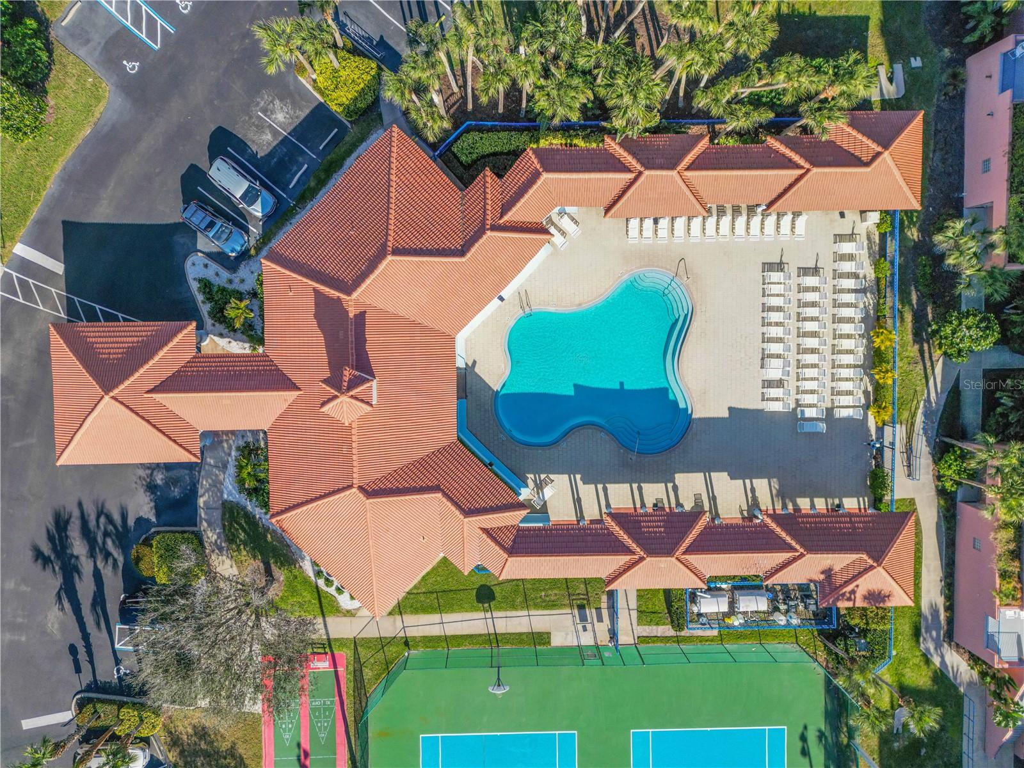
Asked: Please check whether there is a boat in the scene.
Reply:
No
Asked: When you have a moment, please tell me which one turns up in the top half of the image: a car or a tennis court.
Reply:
car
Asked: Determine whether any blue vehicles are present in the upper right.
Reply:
No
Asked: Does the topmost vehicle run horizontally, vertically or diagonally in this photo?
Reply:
diagonally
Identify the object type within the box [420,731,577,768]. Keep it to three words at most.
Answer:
tennis court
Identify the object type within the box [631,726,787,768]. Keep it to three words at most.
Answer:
tennis court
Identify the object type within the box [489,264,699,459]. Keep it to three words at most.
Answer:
swimming pool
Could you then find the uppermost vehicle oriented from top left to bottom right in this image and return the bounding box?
[209,157,283,220]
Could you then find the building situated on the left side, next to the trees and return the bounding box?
[261,125,554,621]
